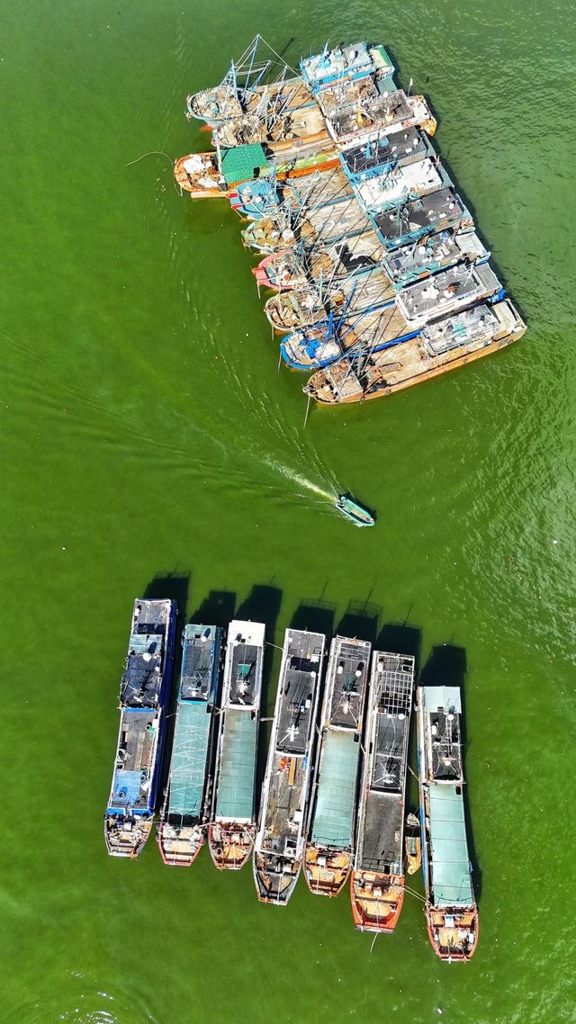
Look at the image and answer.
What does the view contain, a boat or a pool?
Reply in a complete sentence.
There is a boat in the scene.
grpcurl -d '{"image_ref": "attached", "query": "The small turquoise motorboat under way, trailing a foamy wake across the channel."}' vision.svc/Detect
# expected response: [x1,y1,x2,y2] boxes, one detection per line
[334,492,373,525]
